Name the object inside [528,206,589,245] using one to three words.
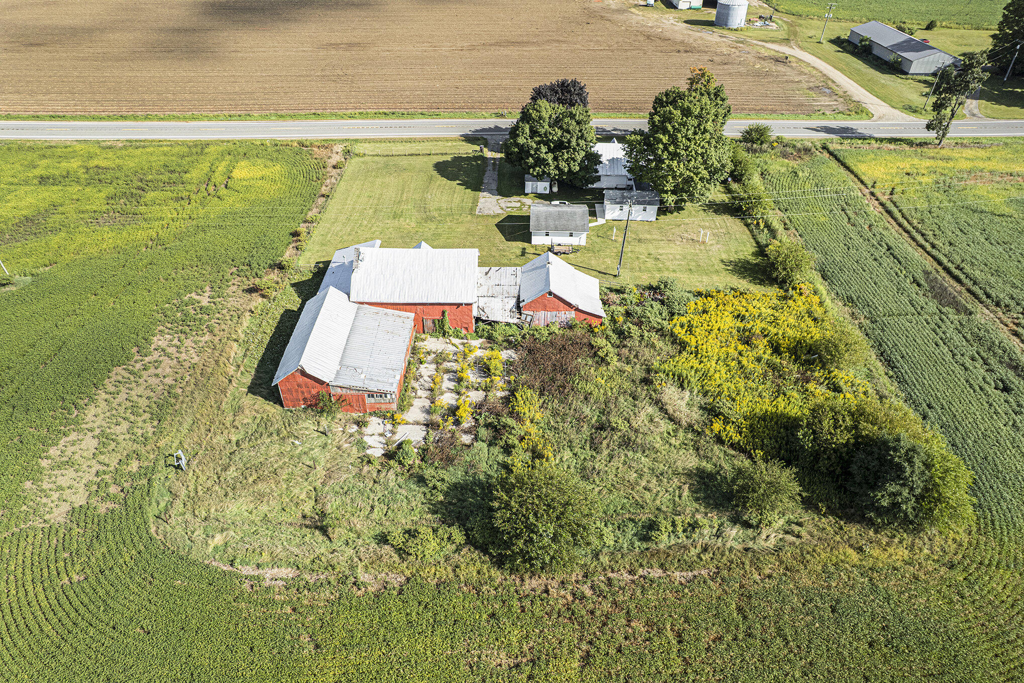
building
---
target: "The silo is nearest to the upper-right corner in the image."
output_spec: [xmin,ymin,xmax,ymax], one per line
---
[713,0,749,28]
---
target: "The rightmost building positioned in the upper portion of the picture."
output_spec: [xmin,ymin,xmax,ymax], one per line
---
[849,18,963,75]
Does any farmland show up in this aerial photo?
Yes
